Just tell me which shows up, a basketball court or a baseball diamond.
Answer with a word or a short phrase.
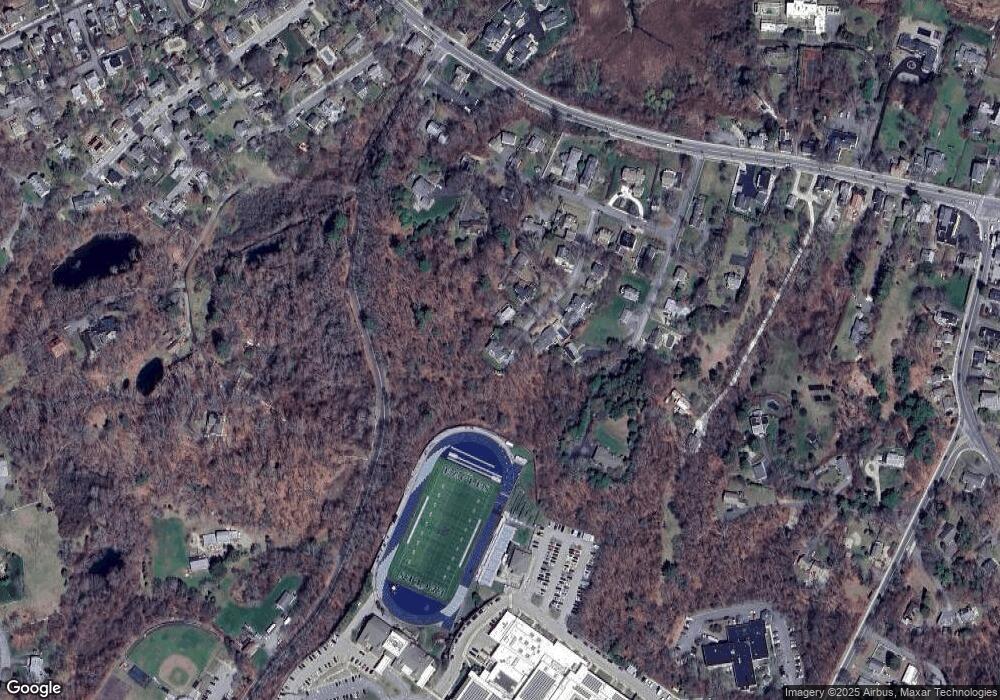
baseball diamond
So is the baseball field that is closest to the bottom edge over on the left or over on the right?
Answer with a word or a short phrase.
left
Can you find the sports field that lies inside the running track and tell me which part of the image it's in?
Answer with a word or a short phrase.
bottom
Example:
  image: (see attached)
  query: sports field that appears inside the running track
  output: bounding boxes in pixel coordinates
[390,461,499,600]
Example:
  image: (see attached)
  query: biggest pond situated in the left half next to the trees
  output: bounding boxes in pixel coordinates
[51,232,142,289]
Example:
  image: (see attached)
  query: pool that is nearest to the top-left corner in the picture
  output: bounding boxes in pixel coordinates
[164,38,187,52]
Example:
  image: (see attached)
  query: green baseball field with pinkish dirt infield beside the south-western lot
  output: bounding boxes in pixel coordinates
[126,621,222,692]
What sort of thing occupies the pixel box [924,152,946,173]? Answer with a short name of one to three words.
house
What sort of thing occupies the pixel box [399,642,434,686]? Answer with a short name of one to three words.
building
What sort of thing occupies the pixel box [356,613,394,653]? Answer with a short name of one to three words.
building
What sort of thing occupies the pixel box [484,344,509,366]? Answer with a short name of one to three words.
house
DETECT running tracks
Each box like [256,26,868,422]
[367,429,521,628]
